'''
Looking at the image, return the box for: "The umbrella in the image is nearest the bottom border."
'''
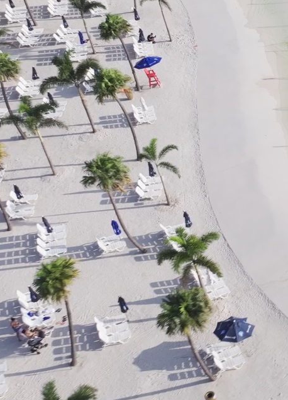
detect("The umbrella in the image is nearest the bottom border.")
[212,312,255,348]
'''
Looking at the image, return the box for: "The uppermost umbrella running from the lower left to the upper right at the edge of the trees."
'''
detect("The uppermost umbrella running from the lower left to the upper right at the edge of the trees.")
[136,53,161,71]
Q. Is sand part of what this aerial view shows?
Yes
